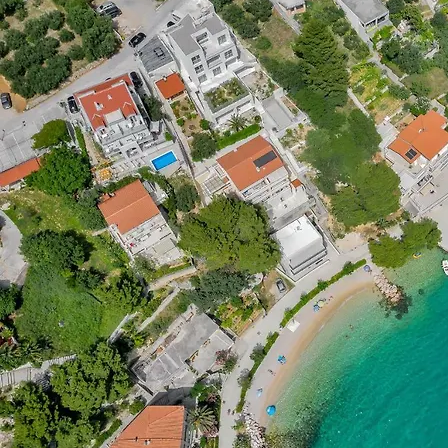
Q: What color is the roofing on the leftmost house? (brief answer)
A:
orange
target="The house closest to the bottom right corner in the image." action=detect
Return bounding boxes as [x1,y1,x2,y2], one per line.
[277,215,332,278]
